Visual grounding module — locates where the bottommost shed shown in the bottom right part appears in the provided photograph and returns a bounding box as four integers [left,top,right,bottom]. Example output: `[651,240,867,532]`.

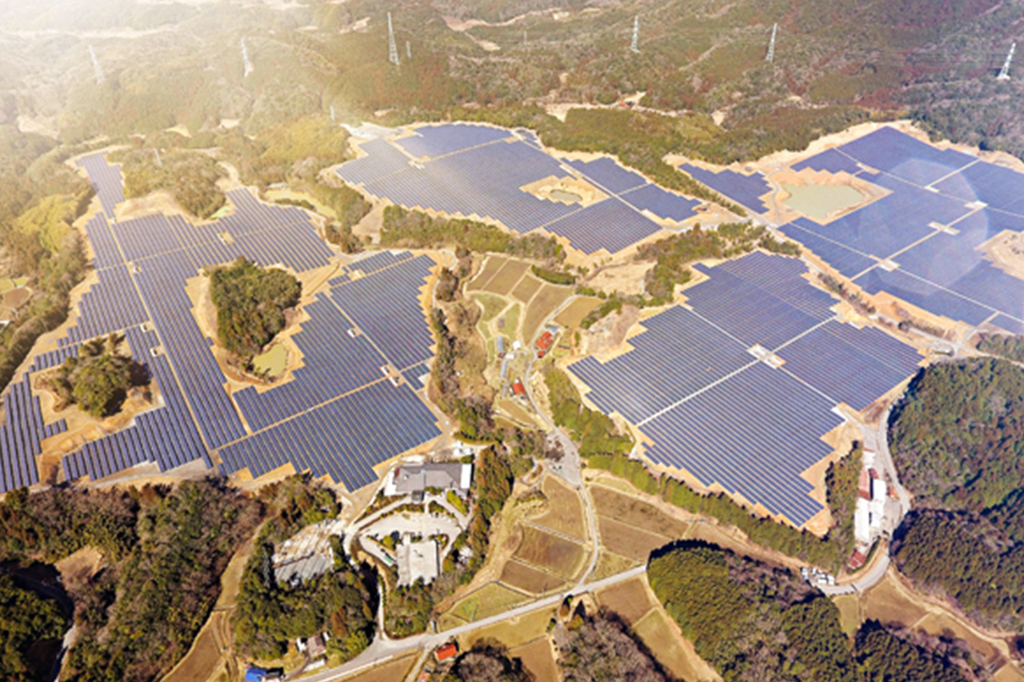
[846,550,872,575]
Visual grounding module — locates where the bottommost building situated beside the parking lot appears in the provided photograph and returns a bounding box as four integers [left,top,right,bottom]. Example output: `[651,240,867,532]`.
[397,534,442,592]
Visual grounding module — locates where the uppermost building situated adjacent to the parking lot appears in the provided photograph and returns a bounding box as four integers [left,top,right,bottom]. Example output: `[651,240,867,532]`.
[396,463,473,505]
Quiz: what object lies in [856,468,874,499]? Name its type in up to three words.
shed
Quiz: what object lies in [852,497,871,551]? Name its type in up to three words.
building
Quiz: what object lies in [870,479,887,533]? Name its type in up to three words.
shed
